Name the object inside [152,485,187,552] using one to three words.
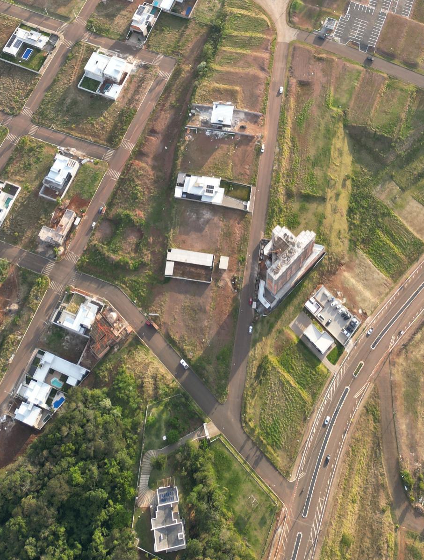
house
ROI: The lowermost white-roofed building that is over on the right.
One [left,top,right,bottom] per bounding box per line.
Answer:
[303,322,335,353]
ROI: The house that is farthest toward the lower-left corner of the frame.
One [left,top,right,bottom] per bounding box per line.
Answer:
[15,400,46,427]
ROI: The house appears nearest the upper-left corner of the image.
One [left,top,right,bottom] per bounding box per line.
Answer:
[2,28,50,61]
